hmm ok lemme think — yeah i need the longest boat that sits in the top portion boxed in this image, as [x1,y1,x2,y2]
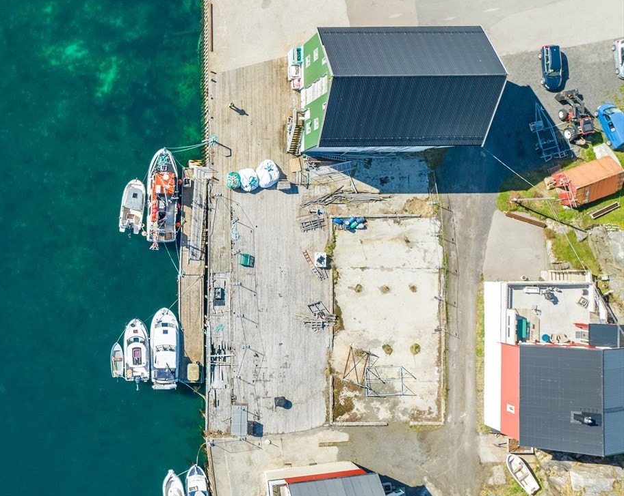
[146,148,183,249]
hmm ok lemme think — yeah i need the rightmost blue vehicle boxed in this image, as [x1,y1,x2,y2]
[596,101,624,147]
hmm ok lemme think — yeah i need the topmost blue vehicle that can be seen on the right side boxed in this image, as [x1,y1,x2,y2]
[536,43,565,92]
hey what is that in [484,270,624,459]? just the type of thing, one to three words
house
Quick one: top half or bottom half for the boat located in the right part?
bottom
